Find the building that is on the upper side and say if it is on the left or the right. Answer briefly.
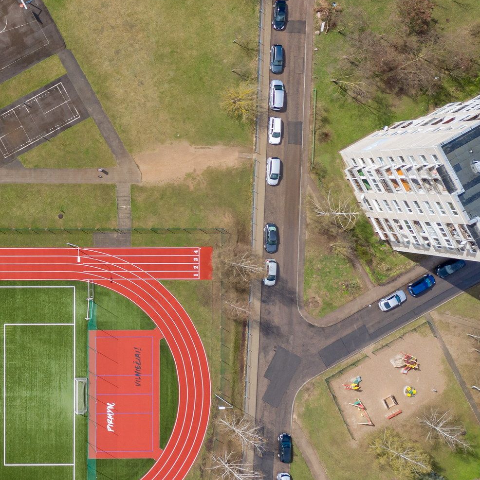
right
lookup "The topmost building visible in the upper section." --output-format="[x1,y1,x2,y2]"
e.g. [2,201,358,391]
[339,89,480,263]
